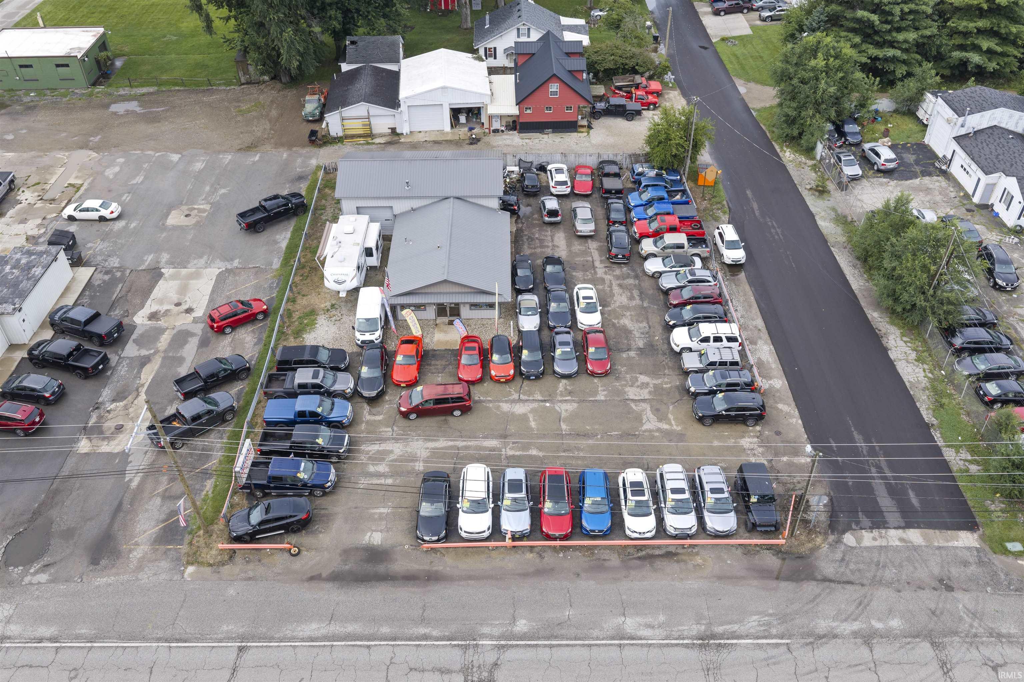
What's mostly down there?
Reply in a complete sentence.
Most of the picture is covered by paved ground.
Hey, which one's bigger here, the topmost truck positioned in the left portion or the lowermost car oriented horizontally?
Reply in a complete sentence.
It is the car that is larger, not the truck.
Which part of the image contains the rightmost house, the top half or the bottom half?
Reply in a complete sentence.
Seen from above, the rightmost house lies in the top half of the view.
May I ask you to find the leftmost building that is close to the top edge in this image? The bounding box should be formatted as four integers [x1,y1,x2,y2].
[0,26,116,87]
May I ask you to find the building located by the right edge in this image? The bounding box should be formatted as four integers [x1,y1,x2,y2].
[923,81,1024,233]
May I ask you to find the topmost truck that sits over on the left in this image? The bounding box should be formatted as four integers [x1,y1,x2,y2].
[300,73,329,121]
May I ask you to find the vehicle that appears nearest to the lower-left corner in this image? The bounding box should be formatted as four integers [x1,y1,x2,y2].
[0,401,48,441]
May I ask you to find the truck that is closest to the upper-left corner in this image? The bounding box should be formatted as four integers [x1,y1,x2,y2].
[0,176,25,201]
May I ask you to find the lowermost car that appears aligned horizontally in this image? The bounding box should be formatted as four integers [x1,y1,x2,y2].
[228,500,314,544]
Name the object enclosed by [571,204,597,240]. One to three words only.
car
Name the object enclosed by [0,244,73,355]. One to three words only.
shed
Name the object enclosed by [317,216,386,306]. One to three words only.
trailer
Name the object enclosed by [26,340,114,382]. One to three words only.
truck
